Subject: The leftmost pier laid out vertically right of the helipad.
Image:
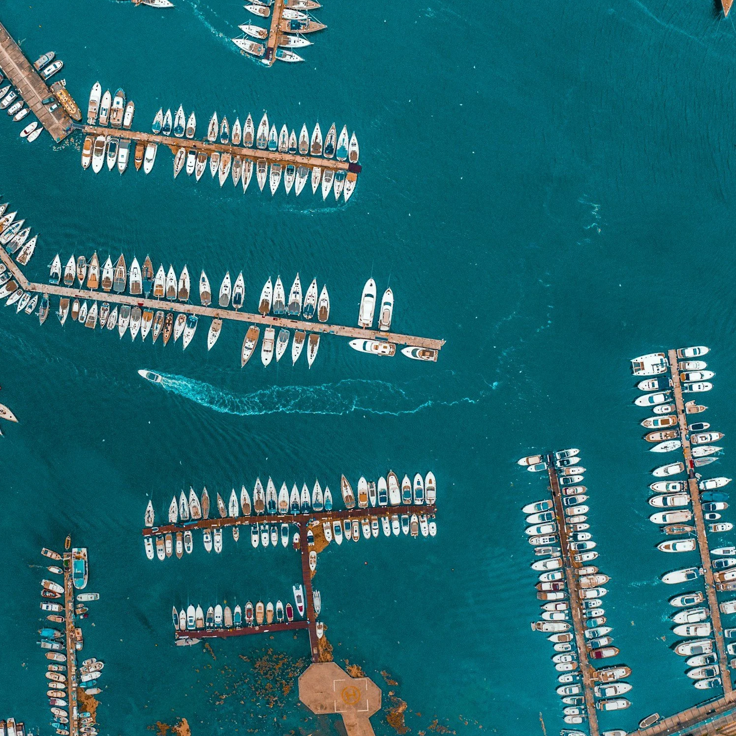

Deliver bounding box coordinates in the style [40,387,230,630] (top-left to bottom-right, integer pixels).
[547,454,597,736]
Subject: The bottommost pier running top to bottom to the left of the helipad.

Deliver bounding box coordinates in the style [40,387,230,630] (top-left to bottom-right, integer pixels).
[64,552,78,736]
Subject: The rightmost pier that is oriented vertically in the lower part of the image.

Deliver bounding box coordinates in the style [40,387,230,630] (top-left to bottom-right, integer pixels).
[668,349,732,695]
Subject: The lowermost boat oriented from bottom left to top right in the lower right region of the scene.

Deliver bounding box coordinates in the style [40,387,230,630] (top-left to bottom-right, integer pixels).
[640,712,662,728]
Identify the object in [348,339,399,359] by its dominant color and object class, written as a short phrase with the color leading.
white boat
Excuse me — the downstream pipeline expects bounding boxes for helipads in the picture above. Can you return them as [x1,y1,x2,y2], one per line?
[298,662,382,736]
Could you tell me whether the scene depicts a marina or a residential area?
marina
